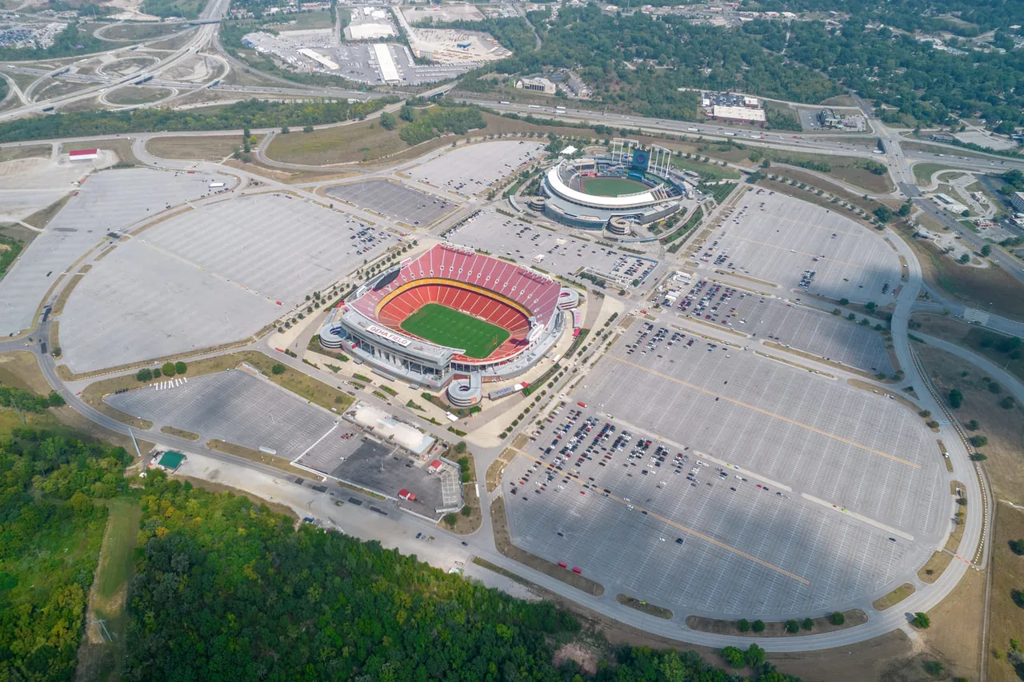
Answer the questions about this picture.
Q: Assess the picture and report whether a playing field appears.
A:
Yes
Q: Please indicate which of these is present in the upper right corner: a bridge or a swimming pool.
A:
bridge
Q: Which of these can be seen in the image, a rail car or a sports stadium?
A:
sports stadium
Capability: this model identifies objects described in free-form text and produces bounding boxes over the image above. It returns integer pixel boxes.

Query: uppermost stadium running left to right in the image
[527,145,698,230]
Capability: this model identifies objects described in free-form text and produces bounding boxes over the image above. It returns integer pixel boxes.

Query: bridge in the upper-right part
[870,120,910,170]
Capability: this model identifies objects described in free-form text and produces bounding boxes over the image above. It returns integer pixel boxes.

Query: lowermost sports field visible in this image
[400,303,511,358]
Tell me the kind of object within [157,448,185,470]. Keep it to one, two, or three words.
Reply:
shed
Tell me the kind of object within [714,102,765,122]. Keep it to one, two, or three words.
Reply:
building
